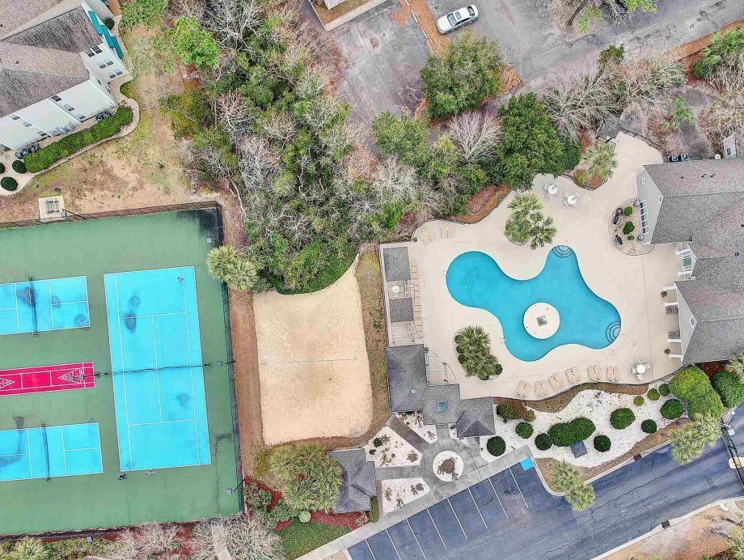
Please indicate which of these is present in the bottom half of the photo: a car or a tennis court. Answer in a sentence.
It is a tennis court that can be seen in the bottom half of the photo.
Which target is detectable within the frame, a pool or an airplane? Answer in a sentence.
The image shows a pool.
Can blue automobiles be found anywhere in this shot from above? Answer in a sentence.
No, no blue automobile is visible in the view.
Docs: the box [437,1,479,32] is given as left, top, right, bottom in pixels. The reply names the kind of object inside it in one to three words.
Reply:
car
